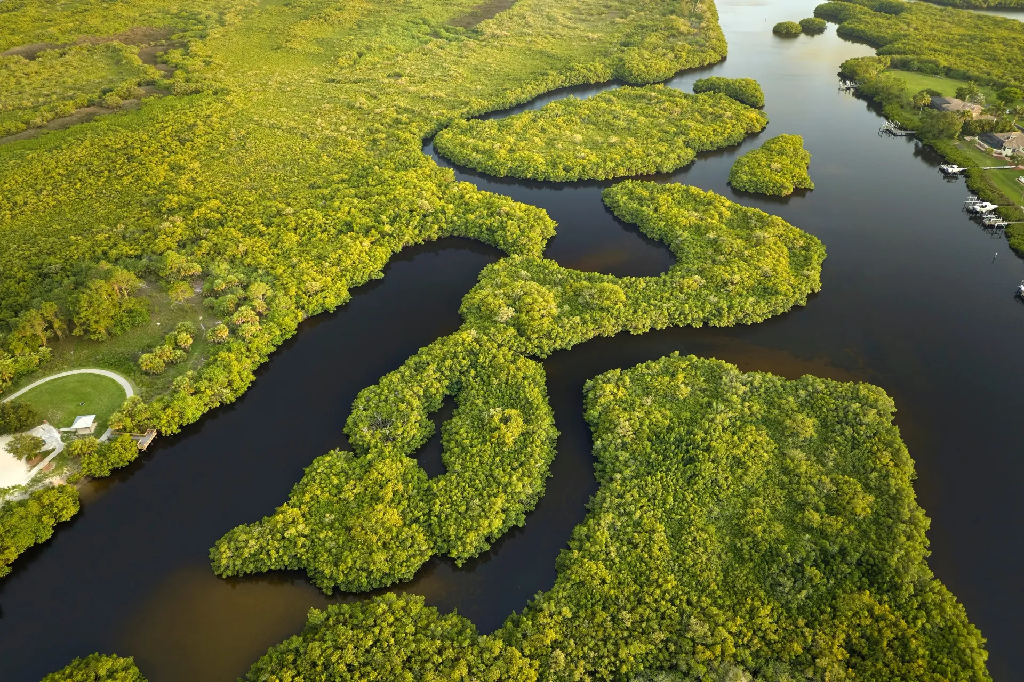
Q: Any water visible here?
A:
Yes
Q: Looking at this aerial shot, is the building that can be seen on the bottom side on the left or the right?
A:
left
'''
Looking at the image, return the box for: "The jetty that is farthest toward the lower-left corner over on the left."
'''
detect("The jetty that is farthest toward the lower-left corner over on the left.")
[104,430,158,454]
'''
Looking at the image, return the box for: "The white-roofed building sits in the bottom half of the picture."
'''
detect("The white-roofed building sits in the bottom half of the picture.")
[70,414,101,436]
